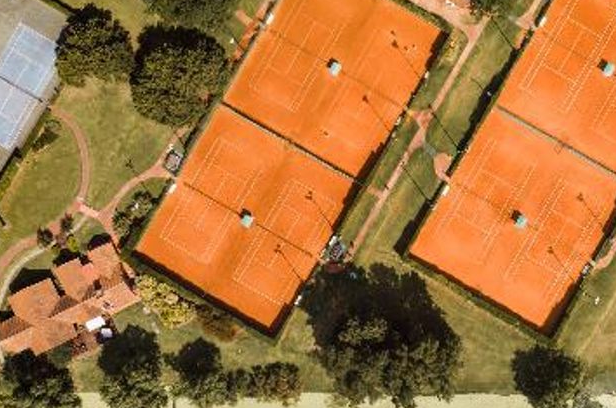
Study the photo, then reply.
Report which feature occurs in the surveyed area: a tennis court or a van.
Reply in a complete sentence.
Visible in the photo is a tennis court.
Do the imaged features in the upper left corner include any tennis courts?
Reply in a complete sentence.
Yes, looking in the upper left corner, one can make out a tennis court.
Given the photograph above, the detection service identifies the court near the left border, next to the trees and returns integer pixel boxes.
[0,22,68,150]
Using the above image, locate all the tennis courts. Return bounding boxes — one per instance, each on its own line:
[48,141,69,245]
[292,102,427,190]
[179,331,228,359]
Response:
[0,22,68,150]
[203,144,362,337]
[214,0,373,142]
[410,107,565,298]
[567,56,616,171]
[127,101,290,296]
[497,0,616,143]
[481,146,616,340]
[292,0,449,183]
